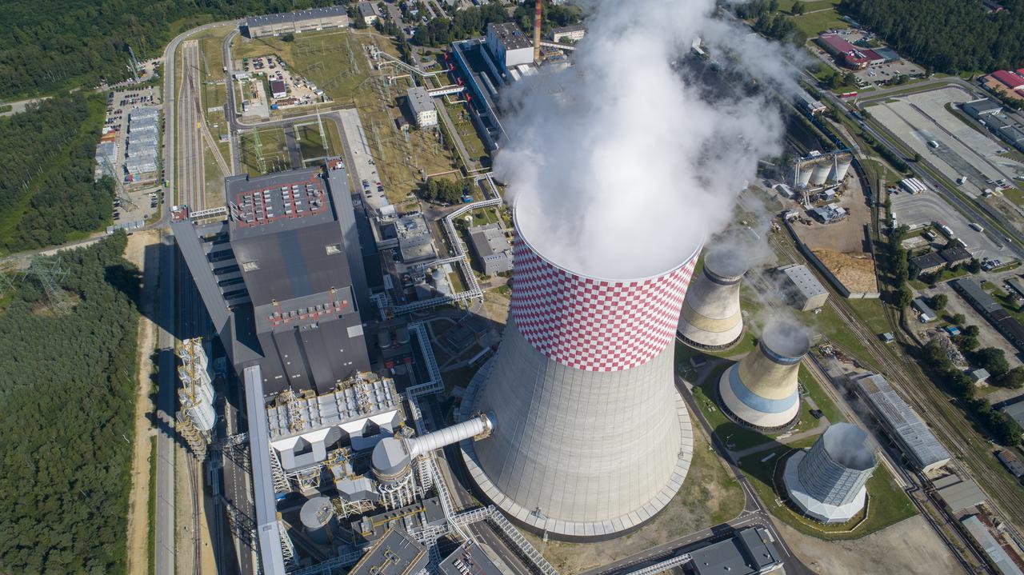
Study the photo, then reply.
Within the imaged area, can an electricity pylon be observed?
Yes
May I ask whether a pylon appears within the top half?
Yes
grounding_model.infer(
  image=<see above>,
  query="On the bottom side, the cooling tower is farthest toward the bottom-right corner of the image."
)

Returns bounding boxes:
[783,421,879,522]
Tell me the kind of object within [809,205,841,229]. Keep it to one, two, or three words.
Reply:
building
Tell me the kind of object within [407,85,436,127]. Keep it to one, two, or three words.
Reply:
house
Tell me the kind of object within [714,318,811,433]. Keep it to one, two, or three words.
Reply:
cooling tower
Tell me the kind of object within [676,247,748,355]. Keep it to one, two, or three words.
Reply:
cooling tower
